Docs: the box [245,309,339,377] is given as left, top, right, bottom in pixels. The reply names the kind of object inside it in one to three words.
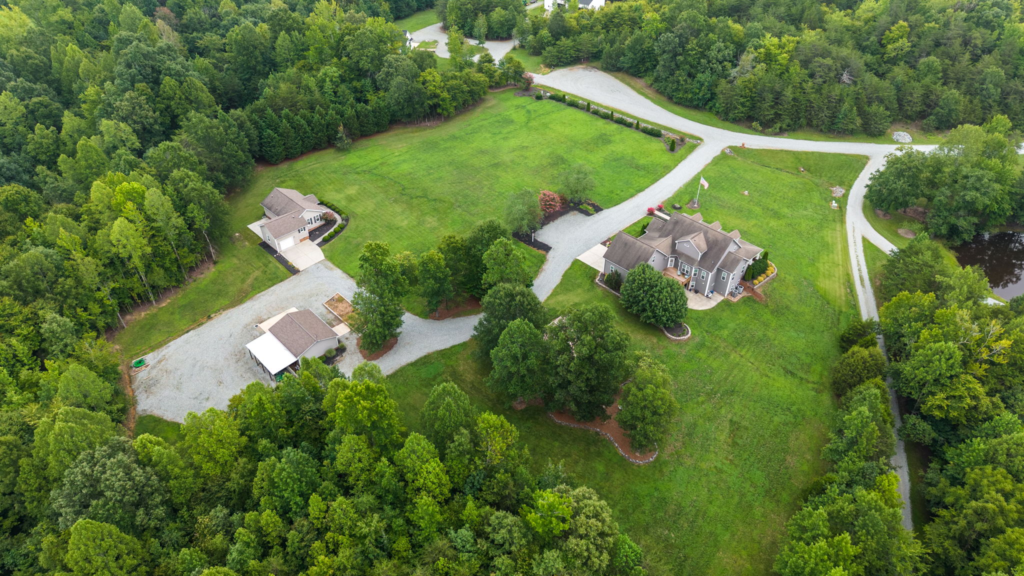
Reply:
barn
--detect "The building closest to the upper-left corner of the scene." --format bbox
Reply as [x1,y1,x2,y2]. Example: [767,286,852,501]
[259,186,326,252]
